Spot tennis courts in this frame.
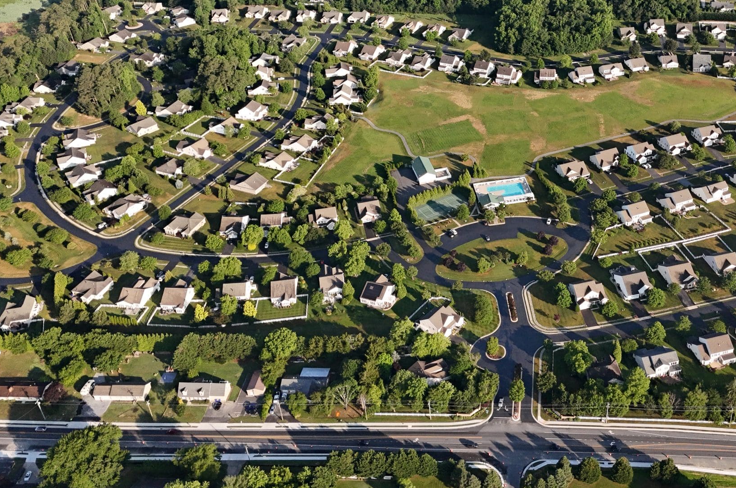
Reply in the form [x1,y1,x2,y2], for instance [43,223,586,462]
[415,193,468,221]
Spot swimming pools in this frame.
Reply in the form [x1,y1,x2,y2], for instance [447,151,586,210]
[473,179,533,202]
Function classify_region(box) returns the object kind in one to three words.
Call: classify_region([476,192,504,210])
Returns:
building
